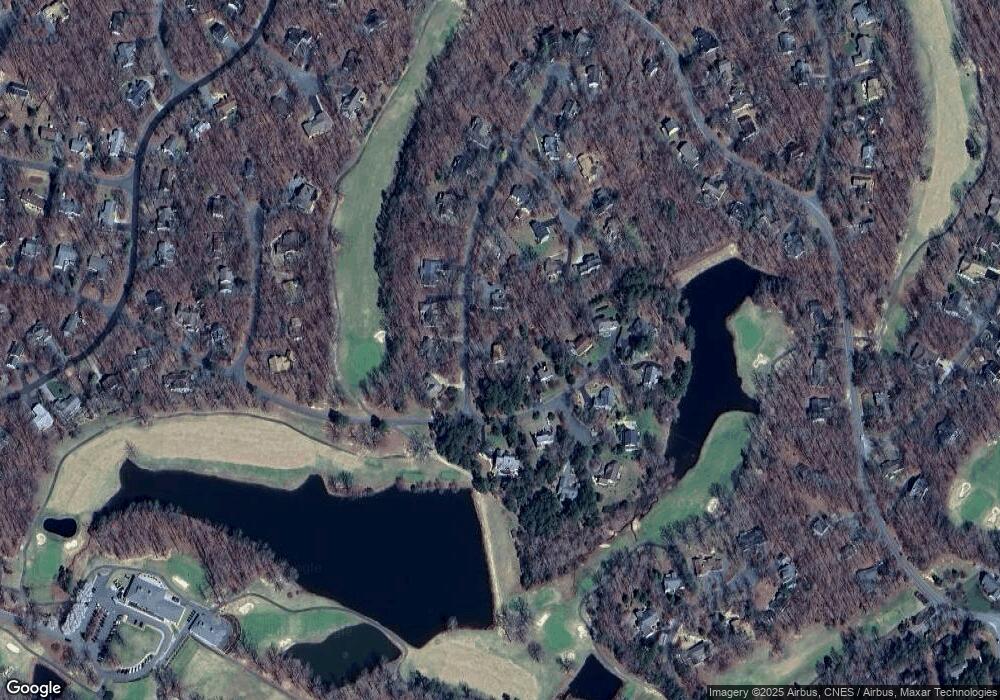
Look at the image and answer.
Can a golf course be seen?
Yes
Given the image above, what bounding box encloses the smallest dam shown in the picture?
[678,246,742,291]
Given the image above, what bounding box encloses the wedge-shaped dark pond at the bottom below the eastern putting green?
[561,659,620,700]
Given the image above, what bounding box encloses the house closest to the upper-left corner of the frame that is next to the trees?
[40,2,67,25]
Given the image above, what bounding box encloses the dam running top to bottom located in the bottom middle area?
[474,486,521,623]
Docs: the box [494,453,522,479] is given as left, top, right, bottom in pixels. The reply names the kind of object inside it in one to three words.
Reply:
house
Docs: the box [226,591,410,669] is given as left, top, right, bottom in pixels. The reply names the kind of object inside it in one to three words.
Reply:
golf course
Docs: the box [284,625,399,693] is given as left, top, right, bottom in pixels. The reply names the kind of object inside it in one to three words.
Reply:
pond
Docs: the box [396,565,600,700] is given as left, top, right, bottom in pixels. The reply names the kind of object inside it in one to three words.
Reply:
golf course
